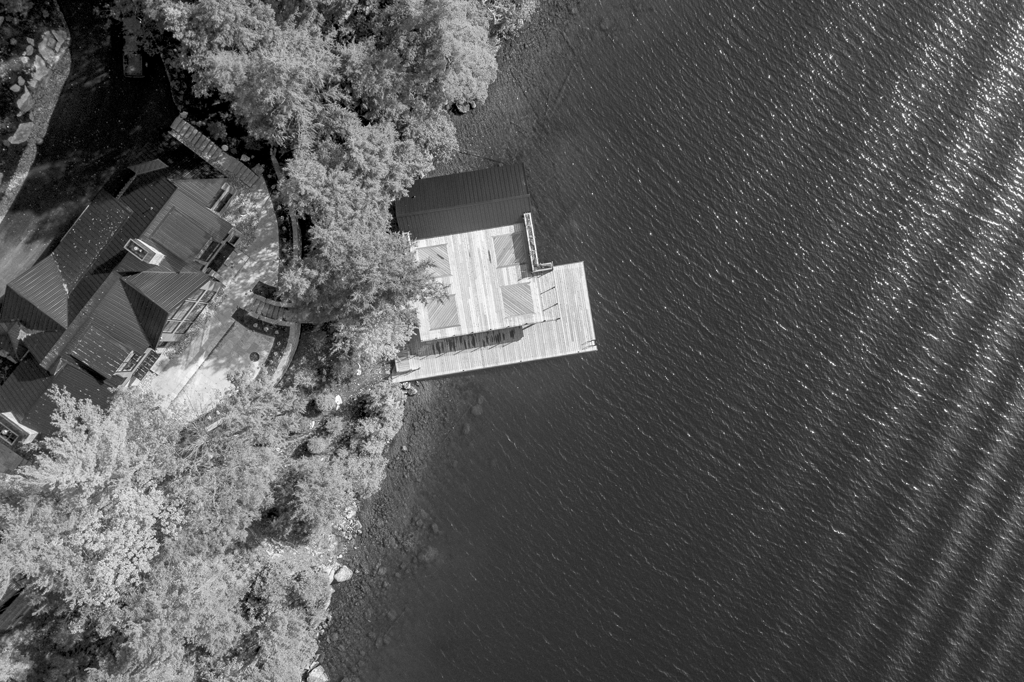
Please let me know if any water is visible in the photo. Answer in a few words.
Yes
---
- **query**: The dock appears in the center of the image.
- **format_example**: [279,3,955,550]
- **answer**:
[388,261,597,382]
